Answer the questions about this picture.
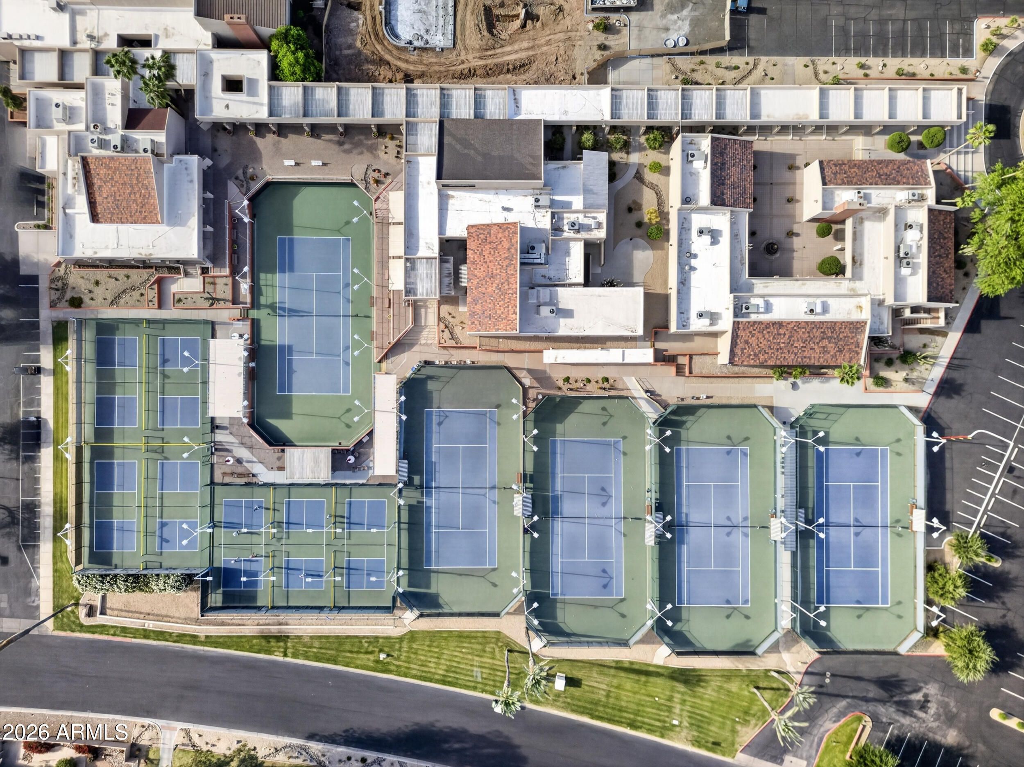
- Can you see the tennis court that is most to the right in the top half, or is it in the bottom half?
bottom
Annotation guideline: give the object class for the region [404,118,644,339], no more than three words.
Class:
building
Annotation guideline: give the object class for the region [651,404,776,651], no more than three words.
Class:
tennis court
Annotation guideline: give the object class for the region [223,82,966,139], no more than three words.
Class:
building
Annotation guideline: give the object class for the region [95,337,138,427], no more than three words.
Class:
sports court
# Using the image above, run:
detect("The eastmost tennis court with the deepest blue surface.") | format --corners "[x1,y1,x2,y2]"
[791,404,916,649]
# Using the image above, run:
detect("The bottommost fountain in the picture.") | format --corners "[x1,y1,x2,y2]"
[762,238,781,257]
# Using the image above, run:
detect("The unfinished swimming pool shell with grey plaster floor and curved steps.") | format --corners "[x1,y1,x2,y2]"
[384,0,454,47]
